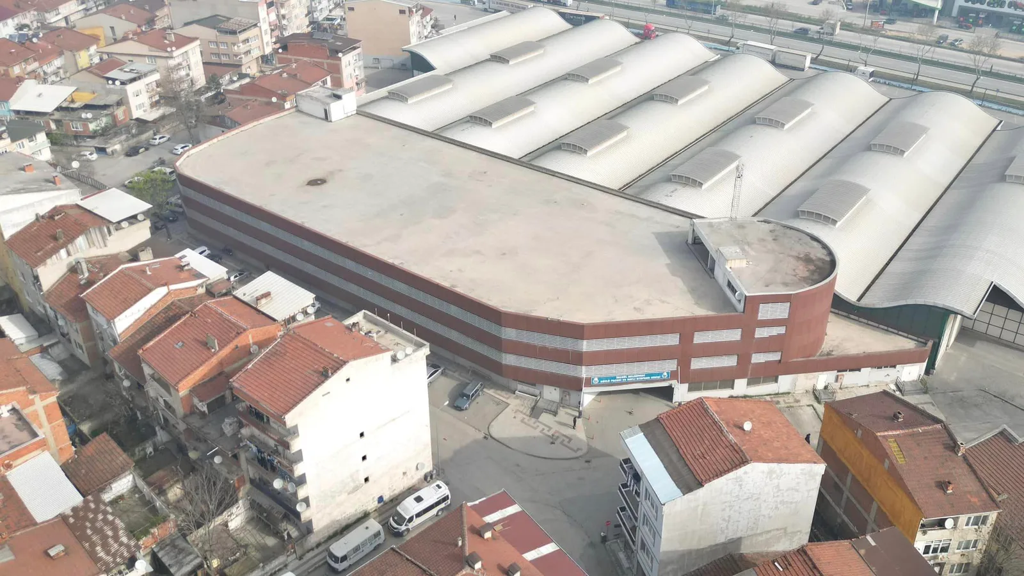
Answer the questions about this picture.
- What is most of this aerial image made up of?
buildings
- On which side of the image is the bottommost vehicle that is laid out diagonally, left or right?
left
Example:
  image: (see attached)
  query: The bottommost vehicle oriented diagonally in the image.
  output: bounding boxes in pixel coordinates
[314,517,379,576]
